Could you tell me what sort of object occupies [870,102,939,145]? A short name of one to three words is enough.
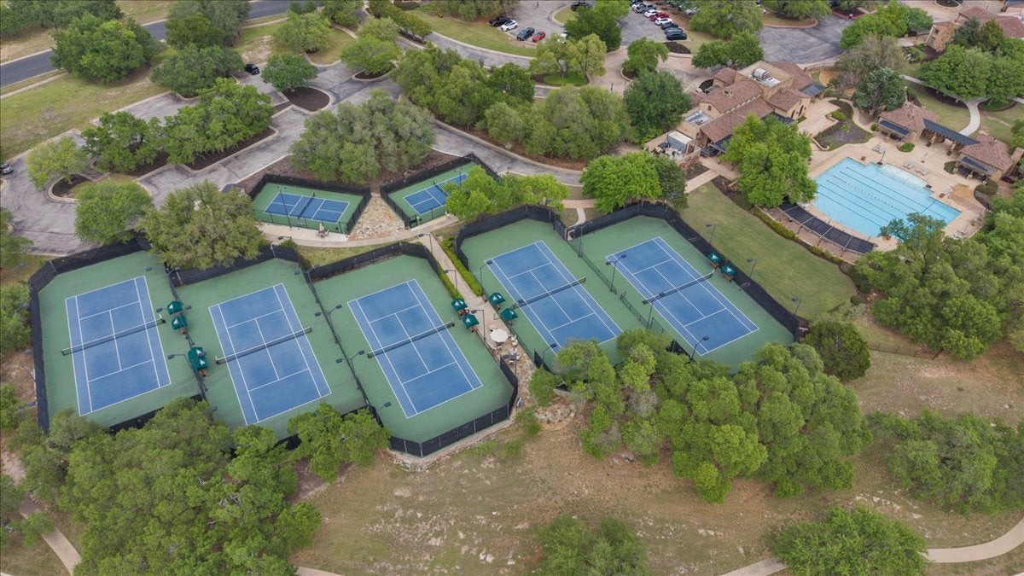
building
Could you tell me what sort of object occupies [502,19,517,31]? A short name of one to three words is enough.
vehicle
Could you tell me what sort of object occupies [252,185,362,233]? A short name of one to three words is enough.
sports court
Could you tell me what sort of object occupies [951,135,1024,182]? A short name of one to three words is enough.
building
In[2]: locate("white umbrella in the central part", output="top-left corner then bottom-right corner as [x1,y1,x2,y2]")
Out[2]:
[489,329,508,346]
